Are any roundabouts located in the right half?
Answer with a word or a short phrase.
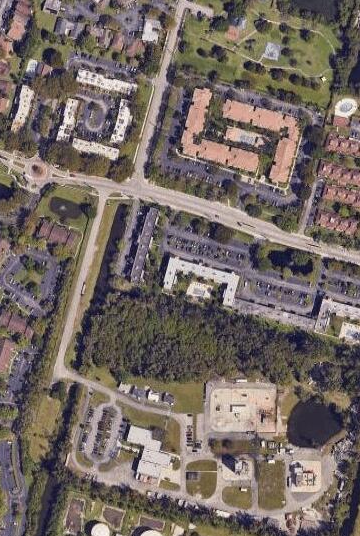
No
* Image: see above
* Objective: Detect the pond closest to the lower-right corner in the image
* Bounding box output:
[289,400,342,444]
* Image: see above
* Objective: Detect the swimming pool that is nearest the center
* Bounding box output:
[188,283,211,299]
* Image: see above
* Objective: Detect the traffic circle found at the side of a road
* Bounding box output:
[25,154,54,184]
